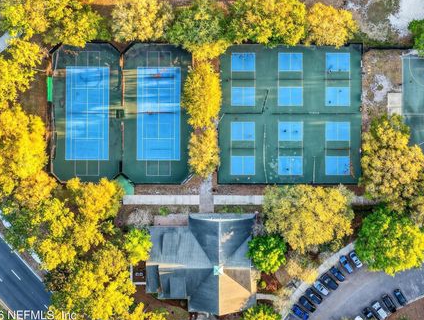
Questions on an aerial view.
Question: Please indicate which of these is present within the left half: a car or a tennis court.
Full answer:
What appears within the left half is a tennis court.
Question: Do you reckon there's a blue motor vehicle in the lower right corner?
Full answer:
Yes, I can see a blue motor vehicle in the lower right corner.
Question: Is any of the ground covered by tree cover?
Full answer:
Yes, there is tree cover in the image.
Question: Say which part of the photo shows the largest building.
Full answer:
Look in the bottom portion of the view to spot the largest building.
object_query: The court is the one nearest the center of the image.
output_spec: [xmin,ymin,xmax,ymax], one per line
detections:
[231,122,255,176]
